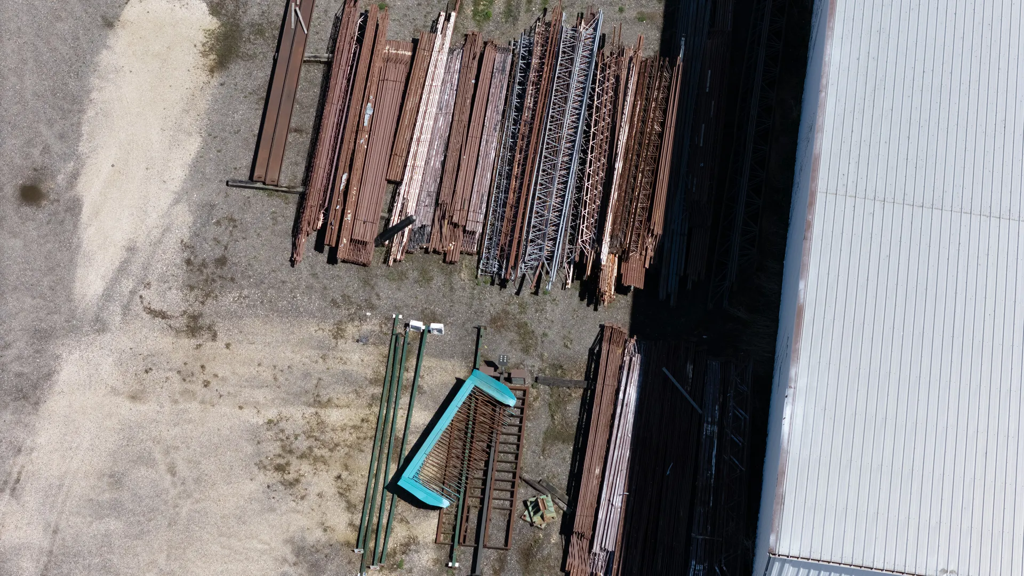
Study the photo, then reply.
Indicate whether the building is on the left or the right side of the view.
right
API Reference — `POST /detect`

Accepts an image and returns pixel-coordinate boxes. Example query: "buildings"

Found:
[752,0,1024,576]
